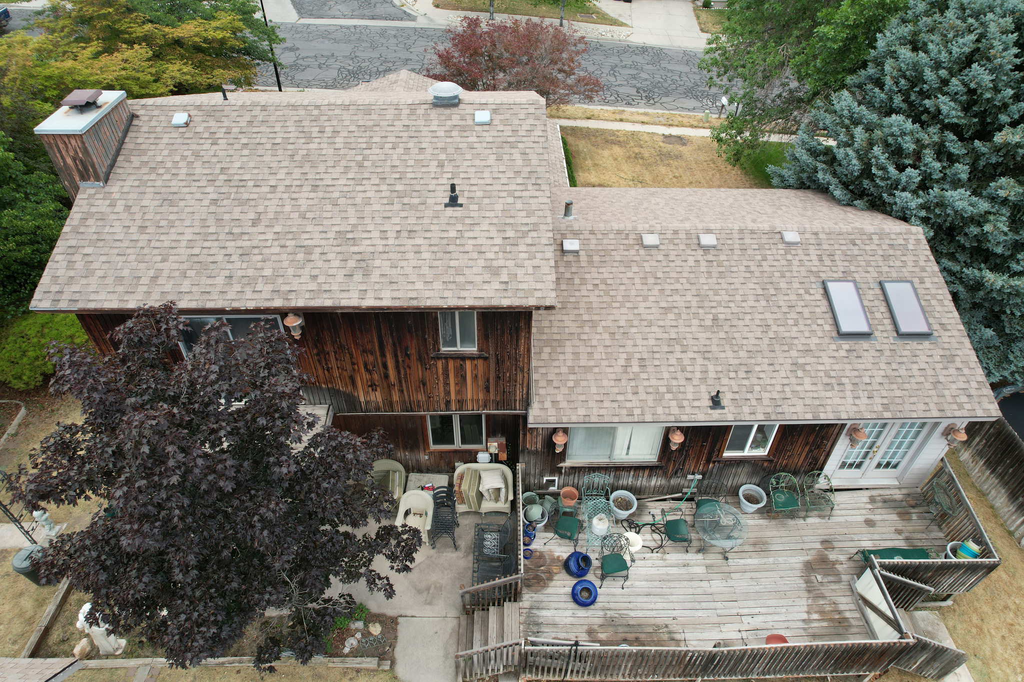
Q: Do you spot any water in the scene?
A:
No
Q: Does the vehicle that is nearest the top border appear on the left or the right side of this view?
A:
left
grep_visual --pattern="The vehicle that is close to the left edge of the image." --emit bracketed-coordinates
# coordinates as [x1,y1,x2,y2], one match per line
[0,7,20,31]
